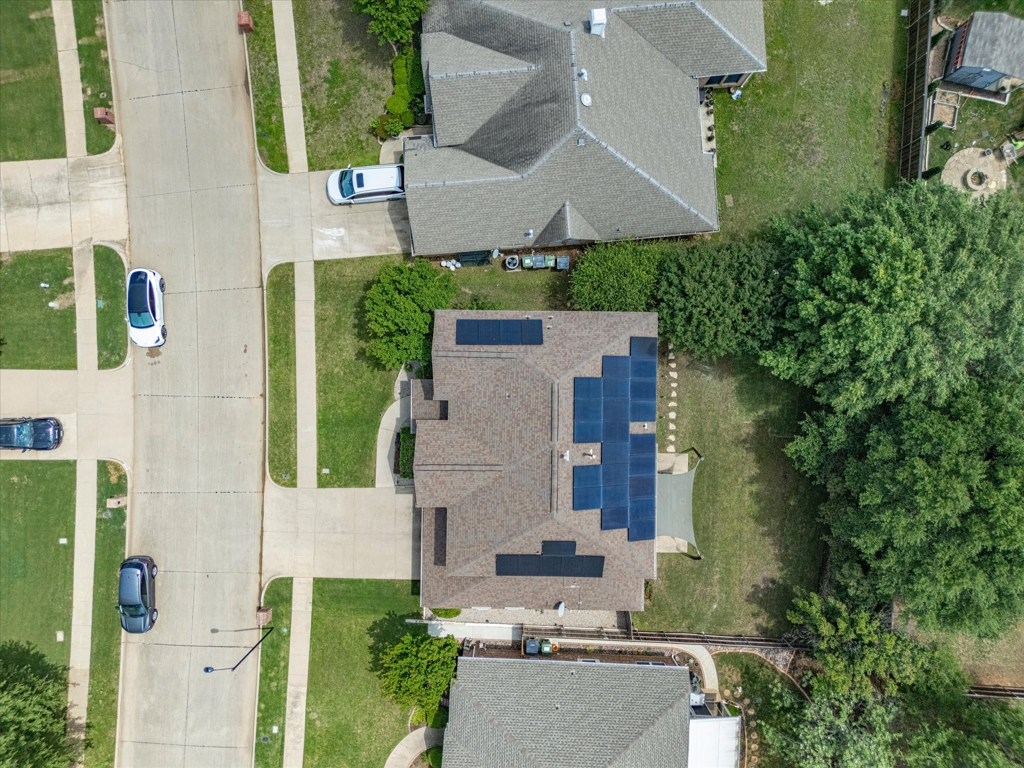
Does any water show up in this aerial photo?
No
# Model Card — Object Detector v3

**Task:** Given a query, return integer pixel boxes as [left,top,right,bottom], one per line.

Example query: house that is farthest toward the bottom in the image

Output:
[441,646,692,768]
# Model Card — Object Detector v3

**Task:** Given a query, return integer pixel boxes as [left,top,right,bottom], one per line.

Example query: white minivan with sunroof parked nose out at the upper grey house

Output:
[326,162,406,205]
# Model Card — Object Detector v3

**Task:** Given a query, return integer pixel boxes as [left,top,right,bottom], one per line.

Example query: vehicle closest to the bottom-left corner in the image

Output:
[114,560,159,635]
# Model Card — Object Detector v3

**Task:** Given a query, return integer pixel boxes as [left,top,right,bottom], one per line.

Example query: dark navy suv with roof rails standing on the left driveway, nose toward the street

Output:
[0,414,61,456]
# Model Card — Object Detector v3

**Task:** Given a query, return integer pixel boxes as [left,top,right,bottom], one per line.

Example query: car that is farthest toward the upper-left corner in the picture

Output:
[122,267,167,347]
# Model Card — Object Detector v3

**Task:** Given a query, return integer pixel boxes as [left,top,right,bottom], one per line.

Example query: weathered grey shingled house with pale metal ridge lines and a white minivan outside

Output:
[401,0,768,256]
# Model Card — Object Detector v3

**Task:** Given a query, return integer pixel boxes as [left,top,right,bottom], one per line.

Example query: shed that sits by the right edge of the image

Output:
[945,11,1024,93]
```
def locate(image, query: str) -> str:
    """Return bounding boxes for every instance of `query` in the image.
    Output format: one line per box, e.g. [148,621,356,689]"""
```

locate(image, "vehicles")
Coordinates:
[122,267,167,347]
[114,560,159,635]
[326,162,406,205]
[0,414,61,456]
